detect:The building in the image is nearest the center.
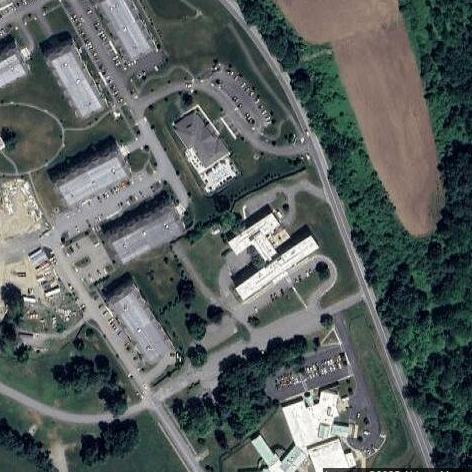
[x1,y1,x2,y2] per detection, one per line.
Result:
[229,212,280,261]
